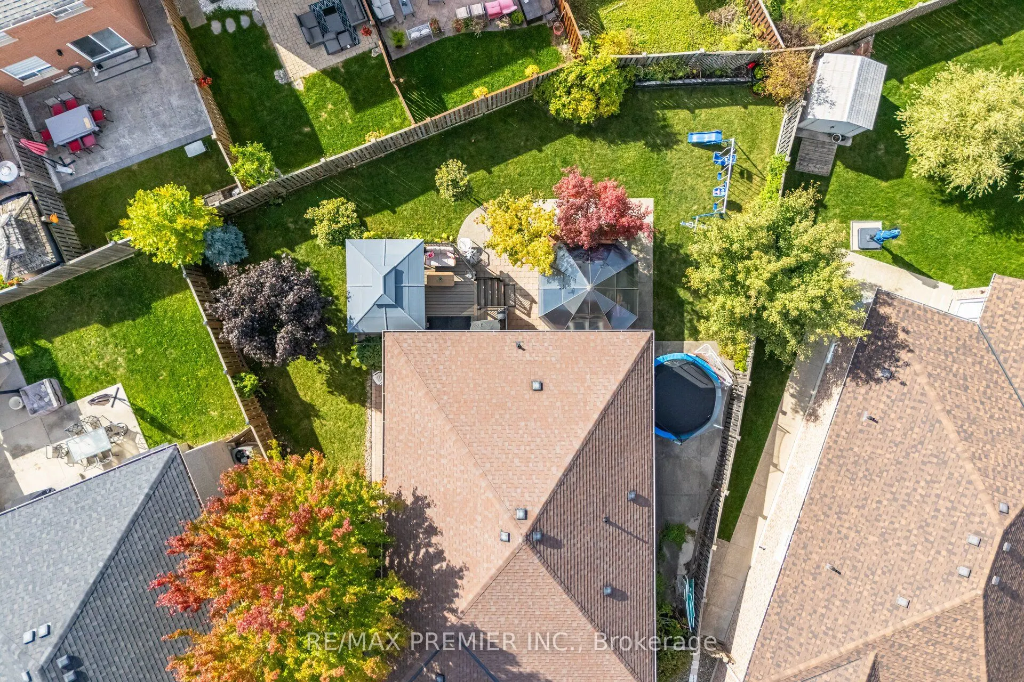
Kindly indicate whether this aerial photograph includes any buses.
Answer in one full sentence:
No, there isn't any bus down there.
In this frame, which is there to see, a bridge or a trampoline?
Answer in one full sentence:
I can see a trampoline in this picture.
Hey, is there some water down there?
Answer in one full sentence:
No, the scene doesn't show any water.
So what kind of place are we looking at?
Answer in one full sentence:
The picture captures a residential area.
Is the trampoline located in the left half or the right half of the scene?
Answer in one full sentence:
The trampoline sits on the right side.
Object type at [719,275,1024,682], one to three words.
house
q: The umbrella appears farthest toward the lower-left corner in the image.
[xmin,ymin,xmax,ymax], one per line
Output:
[84,387,121,408]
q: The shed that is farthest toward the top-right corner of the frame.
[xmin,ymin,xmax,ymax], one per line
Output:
[798,53,886,138]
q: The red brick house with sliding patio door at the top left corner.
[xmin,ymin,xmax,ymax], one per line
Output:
[0,0,156,96]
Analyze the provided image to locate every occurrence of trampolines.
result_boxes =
[656,354,727,448]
